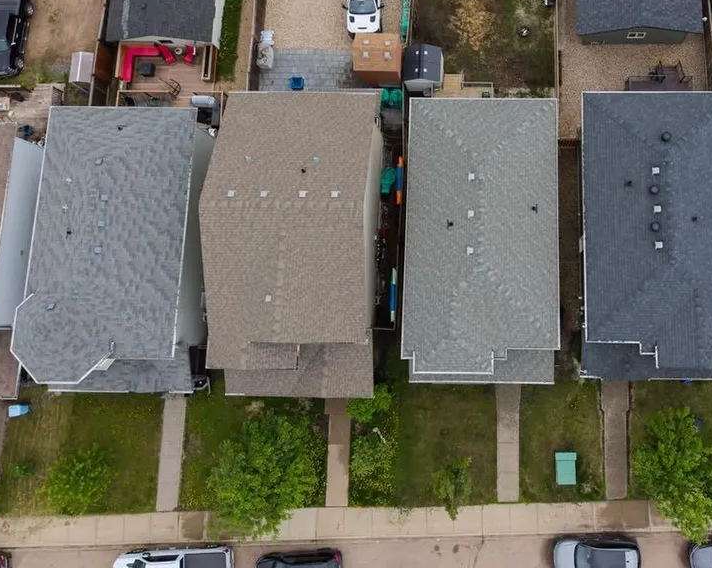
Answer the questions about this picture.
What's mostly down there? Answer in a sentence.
Most of the picture is covered by buildings.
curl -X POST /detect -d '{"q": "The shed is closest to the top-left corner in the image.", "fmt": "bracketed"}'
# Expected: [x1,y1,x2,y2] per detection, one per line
[69,55,95,88]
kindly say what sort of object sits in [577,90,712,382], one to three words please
house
